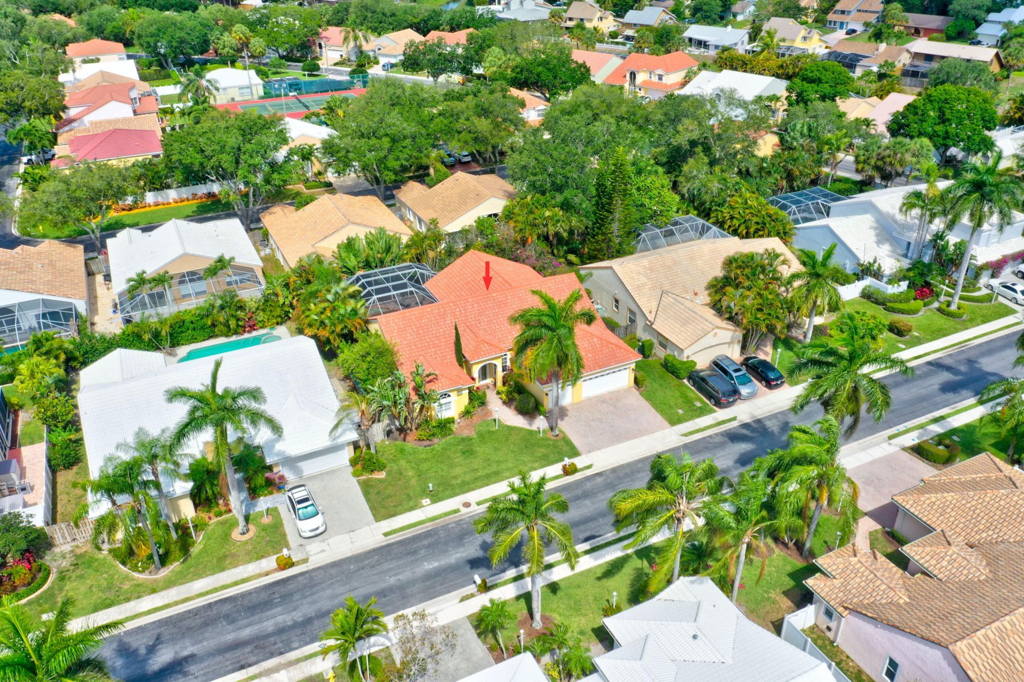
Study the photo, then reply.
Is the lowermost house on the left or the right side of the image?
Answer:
right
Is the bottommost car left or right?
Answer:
left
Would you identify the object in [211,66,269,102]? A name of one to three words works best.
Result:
house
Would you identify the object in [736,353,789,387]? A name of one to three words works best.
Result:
car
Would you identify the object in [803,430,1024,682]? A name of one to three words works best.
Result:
house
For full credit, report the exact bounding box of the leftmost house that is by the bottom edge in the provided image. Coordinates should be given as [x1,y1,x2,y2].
[591,560,847,682]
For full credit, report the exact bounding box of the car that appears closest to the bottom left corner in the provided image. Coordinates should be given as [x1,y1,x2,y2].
[279,477,324,533]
